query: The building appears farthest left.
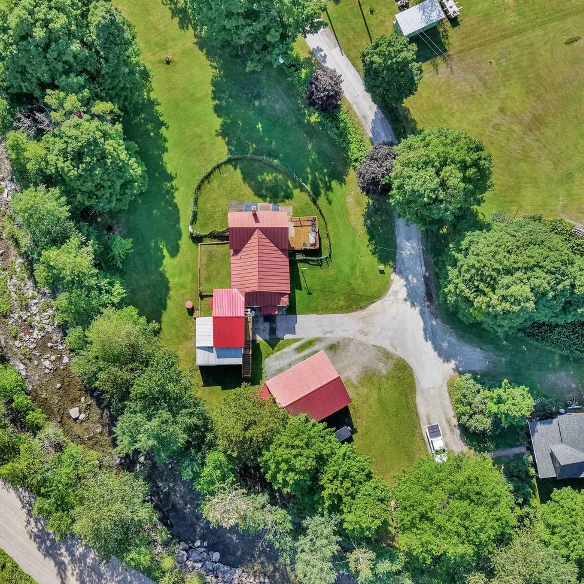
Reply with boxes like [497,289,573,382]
[197,289,245,365]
